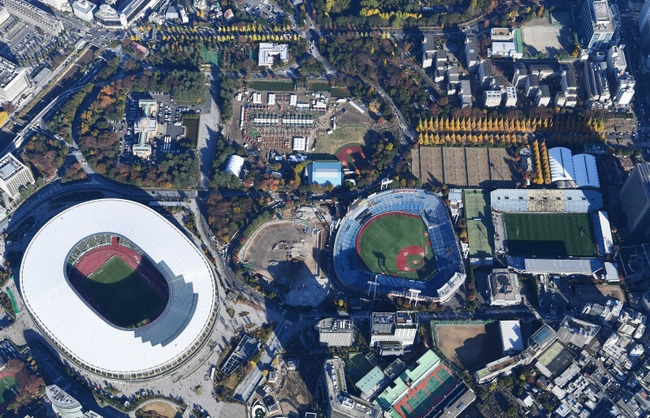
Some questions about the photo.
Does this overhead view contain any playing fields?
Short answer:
Yes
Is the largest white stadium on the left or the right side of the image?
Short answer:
left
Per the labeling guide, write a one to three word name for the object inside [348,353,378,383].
sports court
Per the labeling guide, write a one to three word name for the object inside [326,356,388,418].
building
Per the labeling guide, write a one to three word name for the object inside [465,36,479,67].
building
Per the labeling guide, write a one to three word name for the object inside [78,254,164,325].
sports field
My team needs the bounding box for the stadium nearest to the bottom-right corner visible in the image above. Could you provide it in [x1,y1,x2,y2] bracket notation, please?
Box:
[490,189,613,279]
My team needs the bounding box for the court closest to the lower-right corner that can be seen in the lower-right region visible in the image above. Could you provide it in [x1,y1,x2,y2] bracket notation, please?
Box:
[538,338,579,377]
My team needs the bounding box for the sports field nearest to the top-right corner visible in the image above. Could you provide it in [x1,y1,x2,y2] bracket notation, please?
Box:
[490,20,576,60]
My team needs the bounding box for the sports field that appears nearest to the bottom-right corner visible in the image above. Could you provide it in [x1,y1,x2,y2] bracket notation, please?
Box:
[501,212,597,258]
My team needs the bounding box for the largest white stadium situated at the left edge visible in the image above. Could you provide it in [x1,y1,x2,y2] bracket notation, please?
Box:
[19,197,221,386]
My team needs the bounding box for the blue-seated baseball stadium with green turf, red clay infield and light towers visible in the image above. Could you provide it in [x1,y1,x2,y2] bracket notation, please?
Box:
[333,188,467,304]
